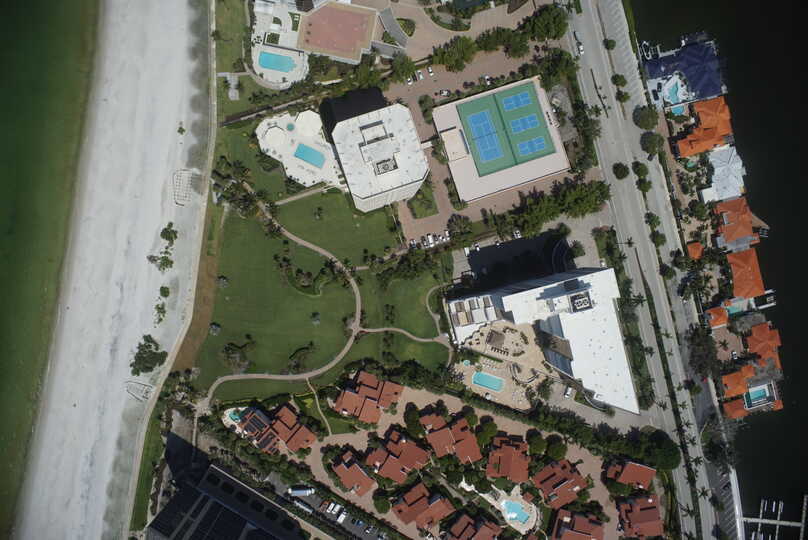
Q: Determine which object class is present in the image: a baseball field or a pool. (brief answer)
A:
pool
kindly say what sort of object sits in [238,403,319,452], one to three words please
house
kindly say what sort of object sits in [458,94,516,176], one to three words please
tennis court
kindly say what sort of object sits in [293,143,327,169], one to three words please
swimming pool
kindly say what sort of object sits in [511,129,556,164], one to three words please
sports court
